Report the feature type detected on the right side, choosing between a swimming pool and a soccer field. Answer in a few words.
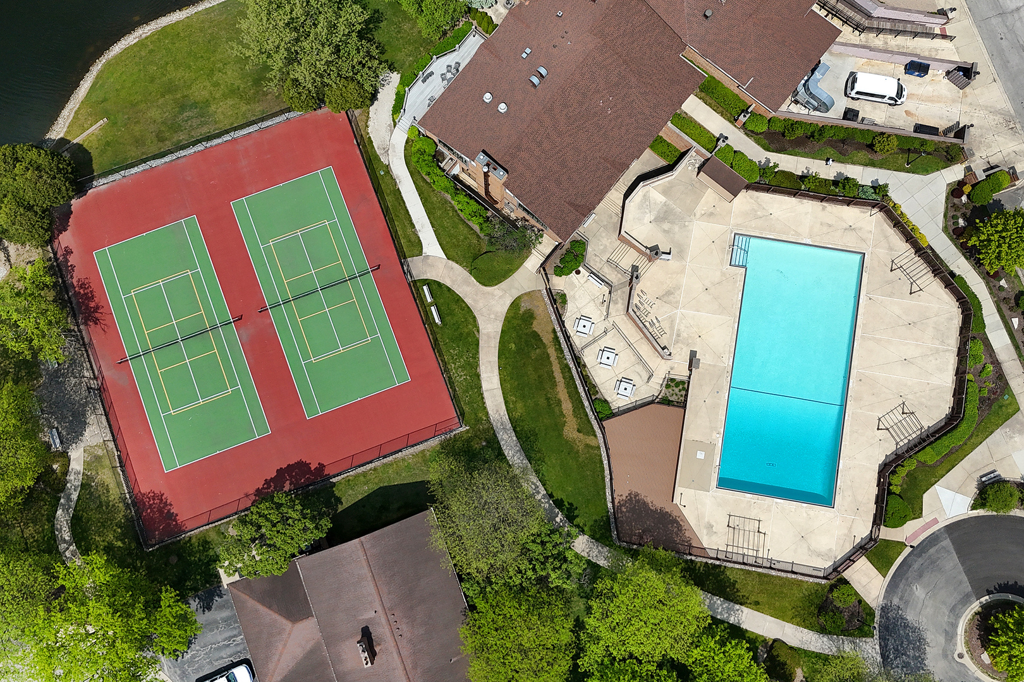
swimming pool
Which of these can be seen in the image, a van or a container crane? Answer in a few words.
van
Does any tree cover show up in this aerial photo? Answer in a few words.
Yes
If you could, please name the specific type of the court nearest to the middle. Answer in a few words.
tennis court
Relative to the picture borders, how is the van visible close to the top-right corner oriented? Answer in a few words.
from left to right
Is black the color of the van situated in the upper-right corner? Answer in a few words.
No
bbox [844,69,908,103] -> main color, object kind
white van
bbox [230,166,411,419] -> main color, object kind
green tennis court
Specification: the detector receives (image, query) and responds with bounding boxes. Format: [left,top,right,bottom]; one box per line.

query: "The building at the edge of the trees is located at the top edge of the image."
[417,0,842,242]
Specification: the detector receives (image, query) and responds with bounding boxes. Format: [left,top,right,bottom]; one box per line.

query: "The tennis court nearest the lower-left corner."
[93,216,271,473]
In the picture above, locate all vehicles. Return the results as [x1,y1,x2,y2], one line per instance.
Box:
[199,665,247,682]
[844,69,908,103]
